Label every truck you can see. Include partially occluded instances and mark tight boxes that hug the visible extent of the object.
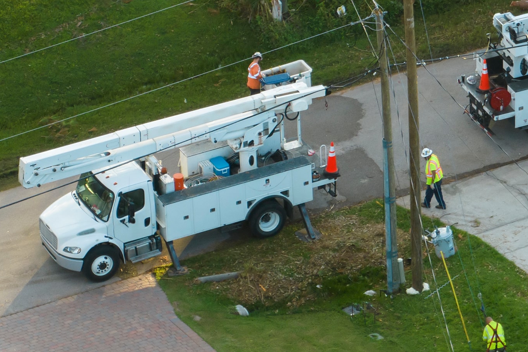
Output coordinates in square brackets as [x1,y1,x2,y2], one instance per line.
[448,9,528,140]
[13,69,345,279]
